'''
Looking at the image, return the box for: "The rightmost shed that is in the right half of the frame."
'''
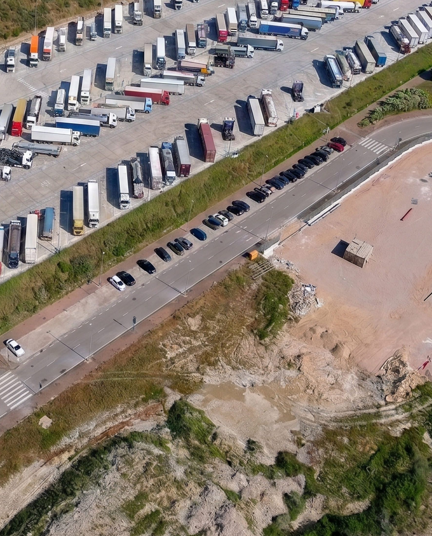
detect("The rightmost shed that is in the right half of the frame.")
[343,239,373,267]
